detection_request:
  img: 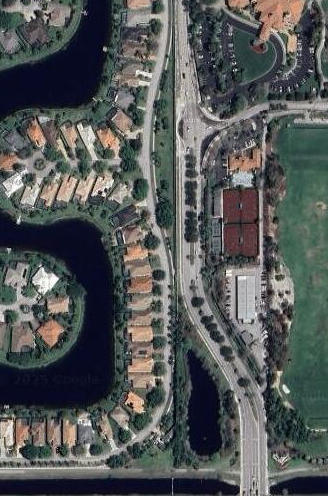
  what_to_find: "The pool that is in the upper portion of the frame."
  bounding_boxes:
[231,174,253,186]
